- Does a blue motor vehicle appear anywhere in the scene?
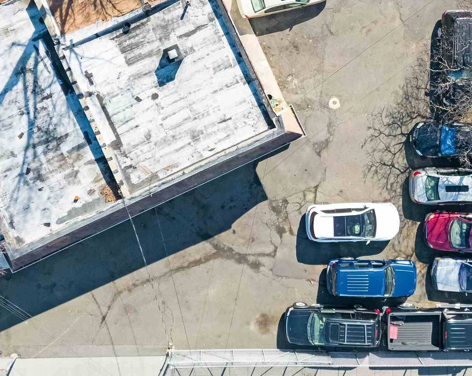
Yes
